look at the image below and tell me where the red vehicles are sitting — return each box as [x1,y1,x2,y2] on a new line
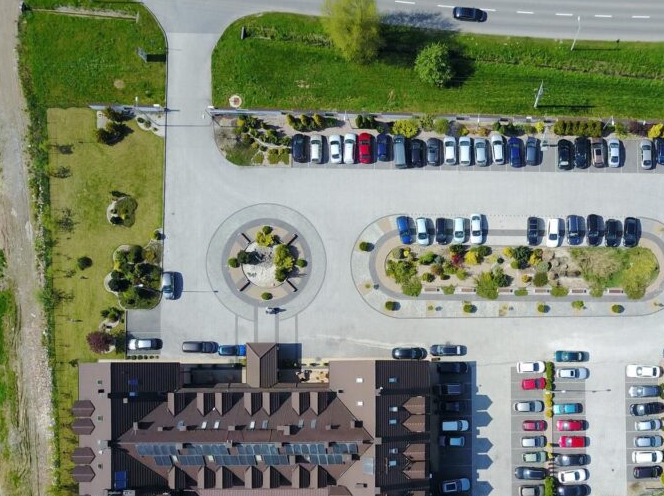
[557,419,585,432]
[520,377,547,390]
[559,435,586,448]
[358,133,373,165]
[522,419,547,432]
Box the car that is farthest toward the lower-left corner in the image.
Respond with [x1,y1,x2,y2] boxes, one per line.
[131,337,163,351]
